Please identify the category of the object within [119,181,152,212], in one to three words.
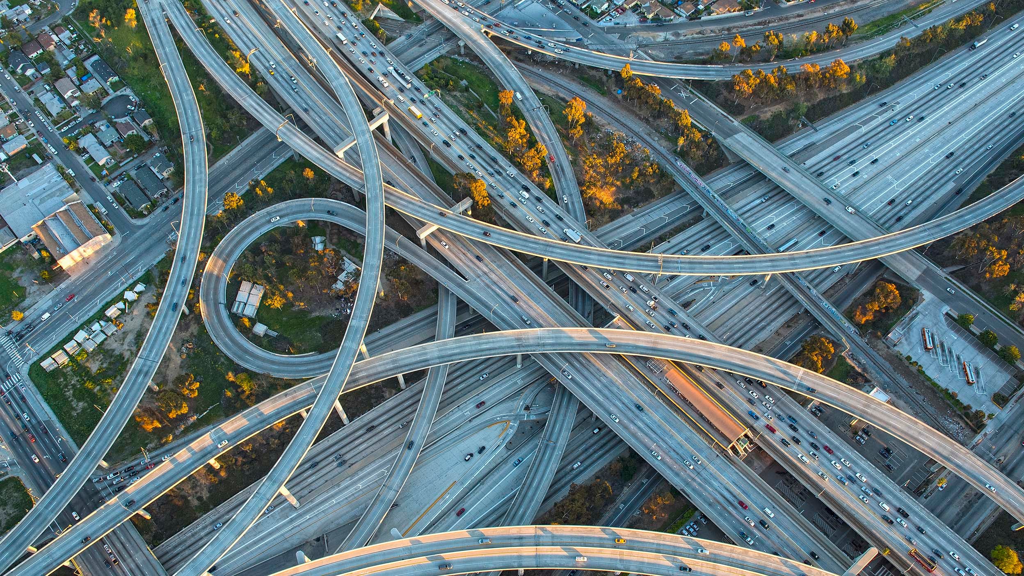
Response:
house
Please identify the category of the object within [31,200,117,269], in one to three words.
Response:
building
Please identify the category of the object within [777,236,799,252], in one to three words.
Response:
vehicle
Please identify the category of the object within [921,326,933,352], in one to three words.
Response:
vehicle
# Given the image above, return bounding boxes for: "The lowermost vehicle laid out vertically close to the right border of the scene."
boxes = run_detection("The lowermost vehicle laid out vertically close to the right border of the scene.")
[963,359,975,386]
